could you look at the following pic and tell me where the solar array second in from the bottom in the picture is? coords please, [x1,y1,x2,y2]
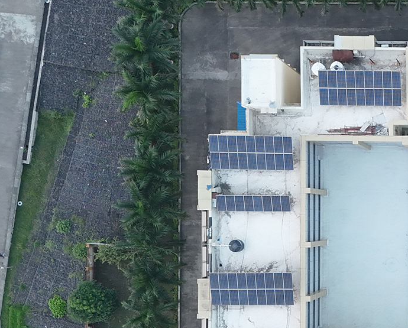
[216,196,289,213]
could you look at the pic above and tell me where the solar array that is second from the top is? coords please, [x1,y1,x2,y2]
[208,135,293,171]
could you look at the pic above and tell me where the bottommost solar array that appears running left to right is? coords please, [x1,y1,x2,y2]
[210,273,293,308]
